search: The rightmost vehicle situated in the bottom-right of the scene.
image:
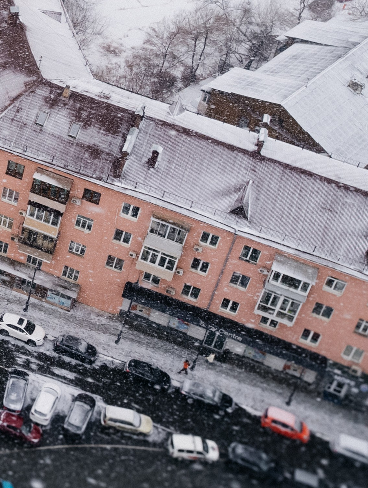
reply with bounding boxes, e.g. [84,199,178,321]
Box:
[320,424,368,468]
